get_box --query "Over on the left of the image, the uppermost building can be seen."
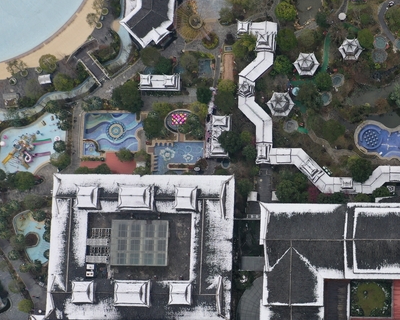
[120,0,180,52]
